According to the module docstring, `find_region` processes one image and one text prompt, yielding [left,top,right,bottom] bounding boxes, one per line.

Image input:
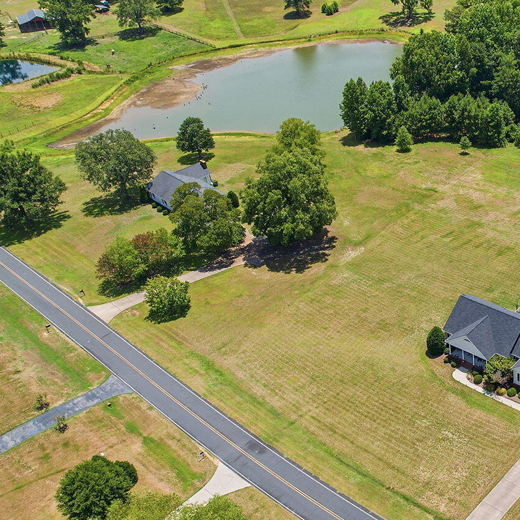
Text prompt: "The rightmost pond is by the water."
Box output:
[106,40,413,139]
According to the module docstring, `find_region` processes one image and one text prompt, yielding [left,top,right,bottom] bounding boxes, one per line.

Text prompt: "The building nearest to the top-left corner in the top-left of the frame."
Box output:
[16,12,50,32]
